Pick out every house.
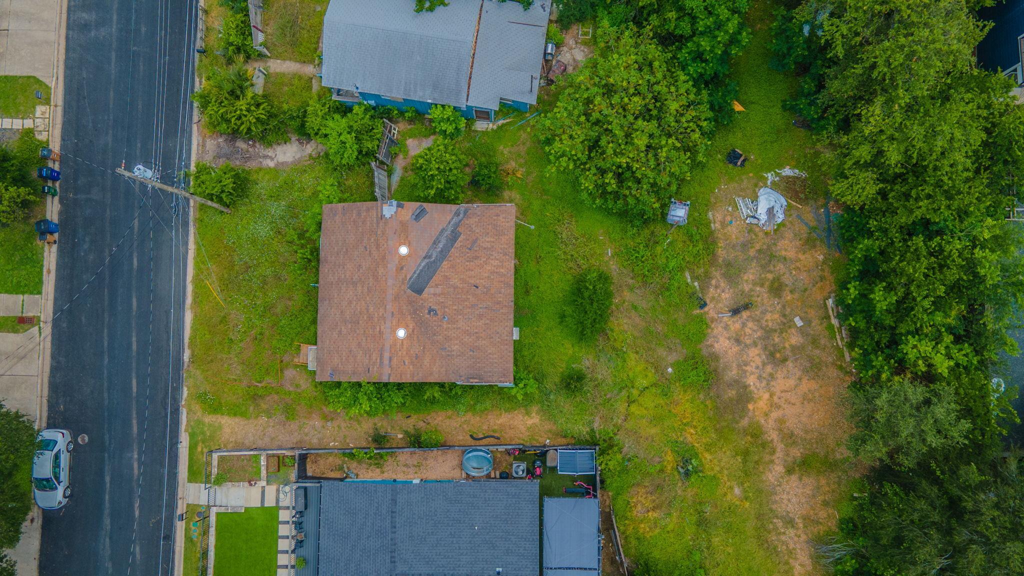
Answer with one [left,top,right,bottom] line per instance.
[311,200,535,386]
[316,0,550,134]
[316,477,542,576]
[949,0,1024,105]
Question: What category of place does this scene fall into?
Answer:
residential area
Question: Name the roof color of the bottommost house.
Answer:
blue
